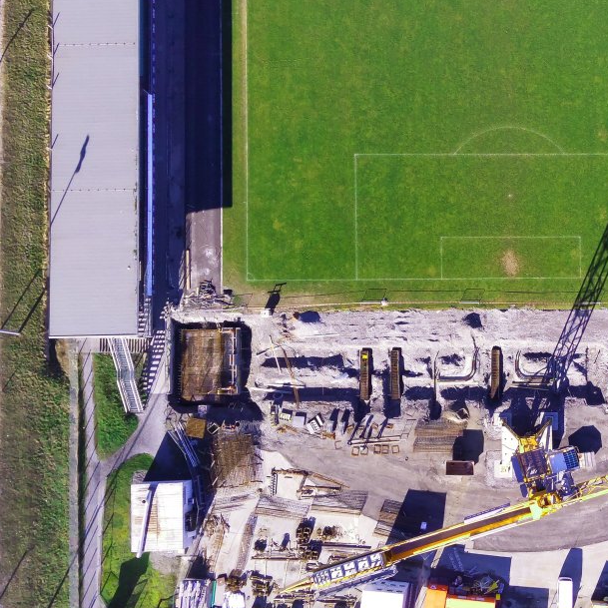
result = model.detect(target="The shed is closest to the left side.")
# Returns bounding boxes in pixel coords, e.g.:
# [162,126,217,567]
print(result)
[131,478,203,559]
